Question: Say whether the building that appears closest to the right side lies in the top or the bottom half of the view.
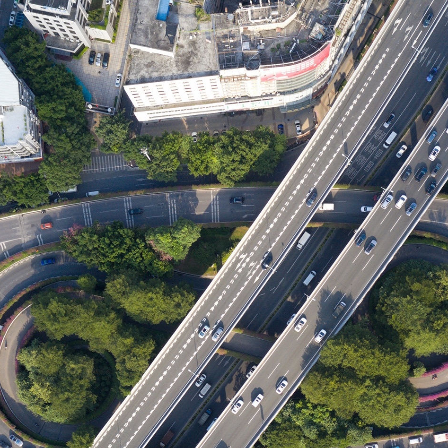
top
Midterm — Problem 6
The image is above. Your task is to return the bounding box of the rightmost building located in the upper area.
[125,0,364,121]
